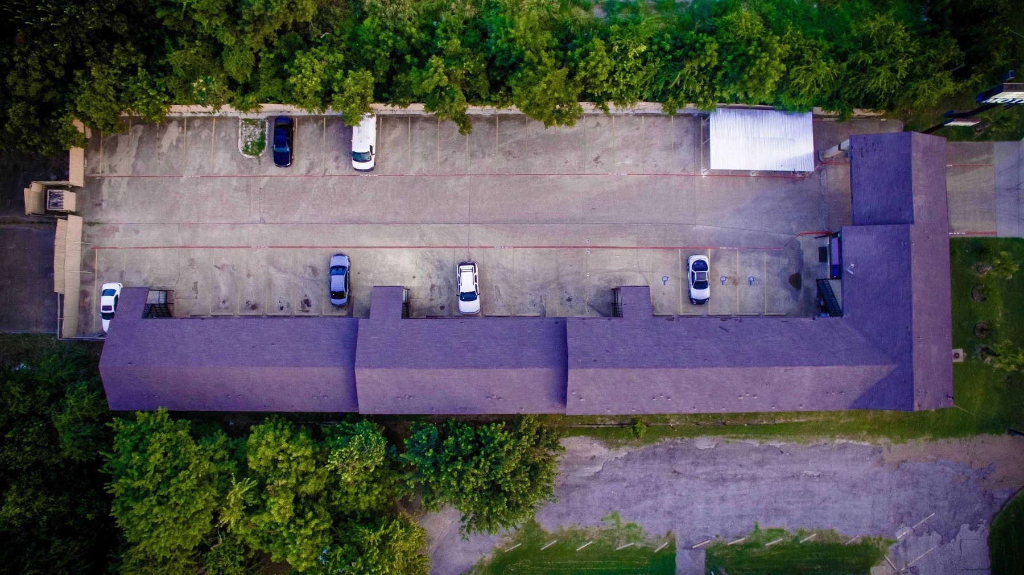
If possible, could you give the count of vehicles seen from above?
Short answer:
6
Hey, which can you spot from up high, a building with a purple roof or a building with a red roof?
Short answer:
building with a purple roof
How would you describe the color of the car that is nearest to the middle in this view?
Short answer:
white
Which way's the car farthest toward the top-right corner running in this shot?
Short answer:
vertically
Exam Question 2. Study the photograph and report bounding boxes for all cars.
[100,282,124,332]
[686,255,710,304]
[328,255,351,305]
[272,118,296,167]
[457,262,481,313]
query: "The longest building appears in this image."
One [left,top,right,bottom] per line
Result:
[98,131,954,416]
